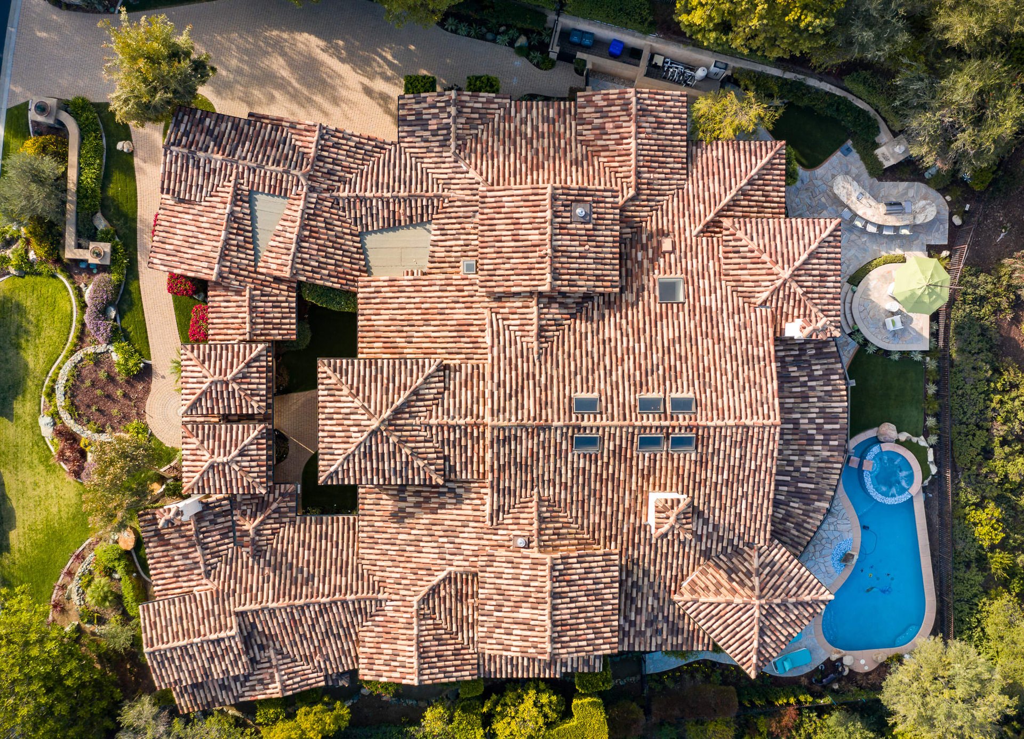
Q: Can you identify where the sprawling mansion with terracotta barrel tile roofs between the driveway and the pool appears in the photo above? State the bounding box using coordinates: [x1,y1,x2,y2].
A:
[136,85,851,715]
